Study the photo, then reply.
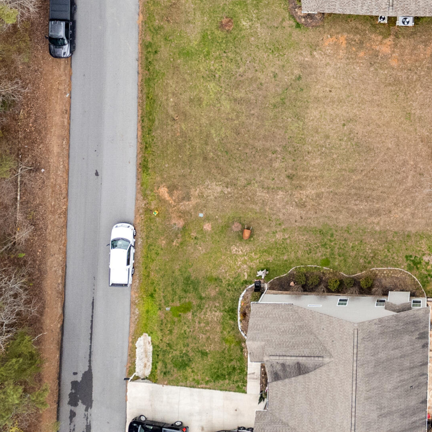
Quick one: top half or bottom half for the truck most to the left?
top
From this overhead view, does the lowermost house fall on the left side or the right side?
right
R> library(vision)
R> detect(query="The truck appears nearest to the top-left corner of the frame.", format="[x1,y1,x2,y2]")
[46,0,78,60]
